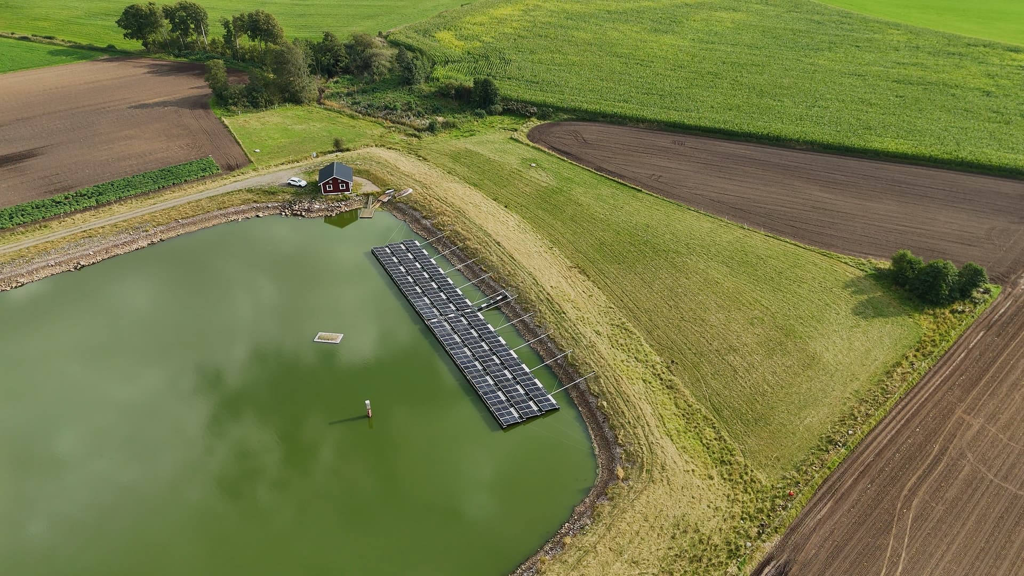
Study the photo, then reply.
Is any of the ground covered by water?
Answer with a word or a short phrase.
Yes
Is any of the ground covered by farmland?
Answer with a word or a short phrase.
Yes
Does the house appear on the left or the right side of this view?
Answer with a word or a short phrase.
left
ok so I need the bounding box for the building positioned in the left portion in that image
[320,161,352,194]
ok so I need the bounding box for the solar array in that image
[372,232,596,430]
